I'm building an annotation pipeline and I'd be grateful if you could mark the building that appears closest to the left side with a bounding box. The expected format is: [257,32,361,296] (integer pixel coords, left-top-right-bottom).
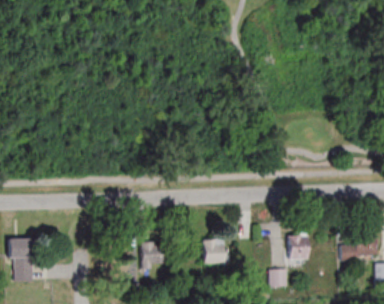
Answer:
[10,238,32,282]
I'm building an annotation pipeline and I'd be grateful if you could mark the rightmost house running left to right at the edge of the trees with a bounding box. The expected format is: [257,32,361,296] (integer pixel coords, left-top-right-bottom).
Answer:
[340,244,380,261]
